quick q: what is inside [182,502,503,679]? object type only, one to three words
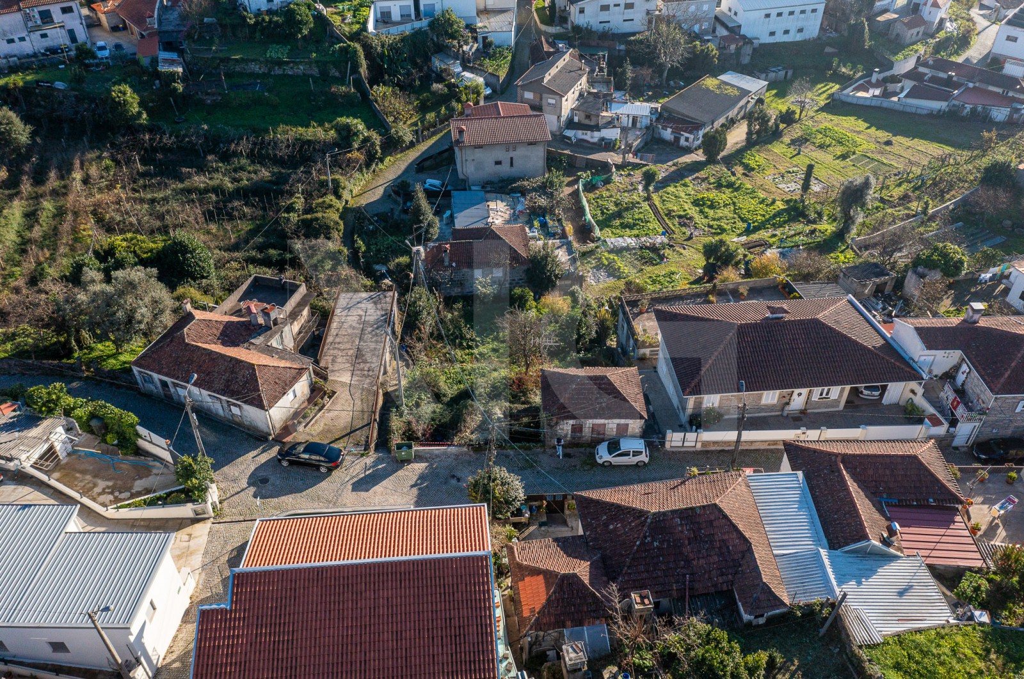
building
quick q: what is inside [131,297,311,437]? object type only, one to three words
house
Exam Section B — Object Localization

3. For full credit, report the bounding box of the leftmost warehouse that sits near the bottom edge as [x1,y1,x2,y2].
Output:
[0,500,203,678]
